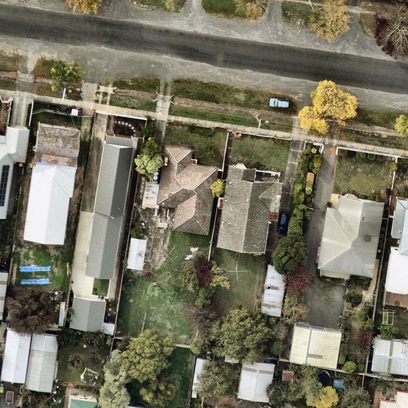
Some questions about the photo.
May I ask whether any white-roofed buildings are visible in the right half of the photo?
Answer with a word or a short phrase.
Yes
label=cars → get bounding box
[268,99,290,109]
[277,213,289,235]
